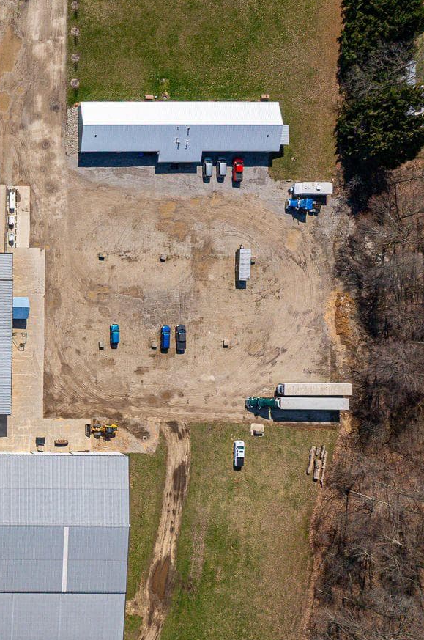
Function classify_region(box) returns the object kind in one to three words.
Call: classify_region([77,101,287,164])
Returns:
building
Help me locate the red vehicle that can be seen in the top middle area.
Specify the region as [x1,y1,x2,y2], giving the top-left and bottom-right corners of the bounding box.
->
[230,156,243,182]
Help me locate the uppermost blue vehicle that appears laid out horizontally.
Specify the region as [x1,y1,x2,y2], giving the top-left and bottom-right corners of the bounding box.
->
[283,199,319,212]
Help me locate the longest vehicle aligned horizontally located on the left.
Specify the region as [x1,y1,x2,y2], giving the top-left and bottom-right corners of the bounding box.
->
[83,425,119,438]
